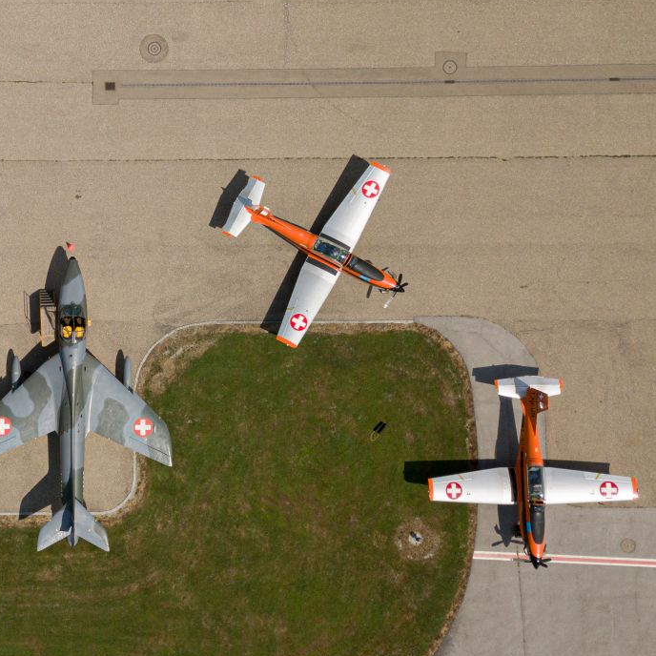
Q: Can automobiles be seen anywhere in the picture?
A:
No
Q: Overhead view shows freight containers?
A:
No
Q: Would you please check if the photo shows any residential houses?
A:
No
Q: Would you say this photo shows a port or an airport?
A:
airport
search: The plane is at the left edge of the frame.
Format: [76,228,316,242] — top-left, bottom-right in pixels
[0,255,173,551]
